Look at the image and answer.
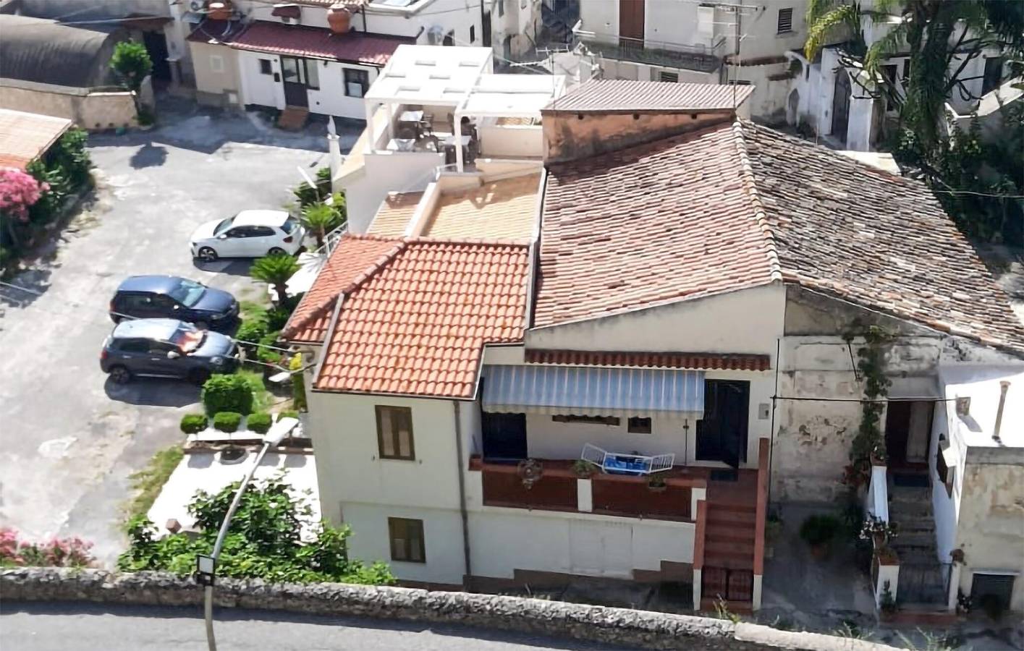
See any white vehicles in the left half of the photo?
Yes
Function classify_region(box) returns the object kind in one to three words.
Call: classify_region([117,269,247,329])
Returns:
car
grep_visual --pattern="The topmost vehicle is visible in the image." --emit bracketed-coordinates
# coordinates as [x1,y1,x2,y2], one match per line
[187,205,303,263]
